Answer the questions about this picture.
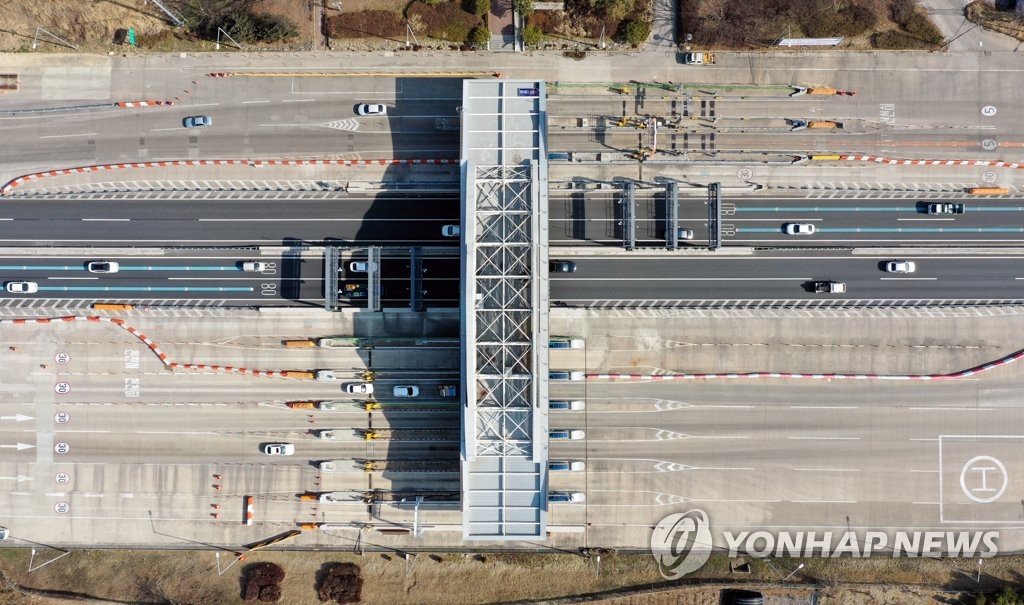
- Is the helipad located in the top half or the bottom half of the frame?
bottom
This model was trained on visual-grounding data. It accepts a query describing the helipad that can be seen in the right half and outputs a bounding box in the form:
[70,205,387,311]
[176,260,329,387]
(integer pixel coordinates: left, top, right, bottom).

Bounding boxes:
[941,436,1024,523]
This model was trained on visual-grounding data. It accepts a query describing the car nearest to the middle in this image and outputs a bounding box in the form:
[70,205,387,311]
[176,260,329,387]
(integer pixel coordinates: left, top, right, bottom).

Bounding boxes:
[548,260,576,273]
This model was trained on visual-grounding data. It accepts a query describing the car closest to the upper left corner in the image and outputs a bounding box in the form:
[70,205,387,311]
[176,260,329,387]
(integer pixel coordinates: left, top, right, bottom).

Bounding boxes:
[184,114,214,128]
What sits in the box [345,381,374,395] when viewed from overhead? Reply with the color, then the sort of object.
white car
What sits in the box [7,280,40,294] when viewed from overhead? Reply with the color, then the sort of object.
white car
